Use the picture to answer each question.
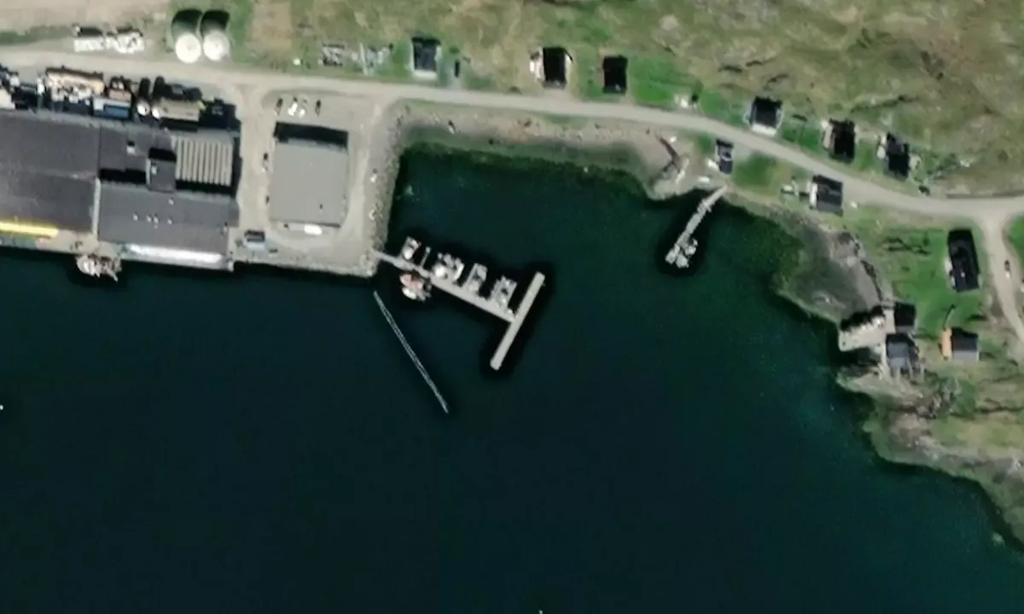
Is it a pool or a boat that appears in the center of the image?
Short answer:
boat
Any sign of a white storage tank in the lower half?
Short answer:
No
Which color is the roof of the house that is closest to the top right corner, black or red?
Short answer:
black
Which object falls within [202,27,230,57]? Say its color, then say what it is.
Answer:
white storage tank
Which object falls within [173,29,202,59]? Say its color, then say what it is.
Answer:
white storage tank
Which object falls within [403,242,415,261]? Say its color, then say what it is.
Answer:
white boat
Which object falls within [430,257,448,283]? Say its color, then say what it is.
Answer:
white boat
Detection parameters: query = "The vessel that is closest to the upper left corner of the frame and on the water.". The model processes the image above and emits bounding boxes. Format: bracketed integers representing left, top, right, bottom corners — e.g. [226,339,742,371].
[78,258,121,280]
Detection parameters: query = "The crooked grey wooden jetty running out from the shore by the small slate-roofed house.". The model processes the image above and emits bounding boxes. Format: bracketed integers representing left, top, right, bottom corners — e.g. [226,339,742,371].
[665,187,727,262]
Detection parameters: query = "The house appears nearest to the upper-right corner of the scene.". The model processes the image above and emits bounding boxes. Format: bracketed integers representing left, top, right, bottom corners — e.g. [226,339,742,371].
[885,148,910,174]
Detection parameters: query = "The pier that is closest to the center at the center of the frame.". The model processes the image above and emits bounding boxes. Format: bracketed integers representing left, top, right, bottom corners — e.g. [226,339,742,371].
[376,247,545,371]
